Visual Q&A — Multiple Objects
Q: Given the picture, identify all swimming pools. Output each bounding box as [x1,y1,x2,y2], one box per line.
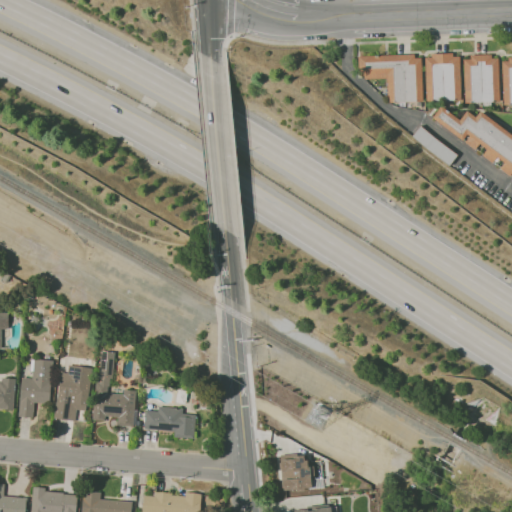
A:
[9,322,21,349]
[148,388,172,403]
[123,360,133,378]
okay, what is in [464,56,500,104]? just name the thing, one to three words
building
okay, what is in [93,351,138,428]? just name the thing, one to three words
house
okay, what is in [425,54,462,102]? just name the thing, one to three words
building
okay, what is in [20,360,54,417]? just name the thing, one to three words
house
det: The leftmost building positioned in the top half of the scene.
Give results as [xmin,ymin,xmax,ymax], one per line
[359,55,424,103]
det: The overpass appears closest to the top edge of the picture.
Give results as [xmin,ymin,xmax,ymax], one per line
[194,48,246,260]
